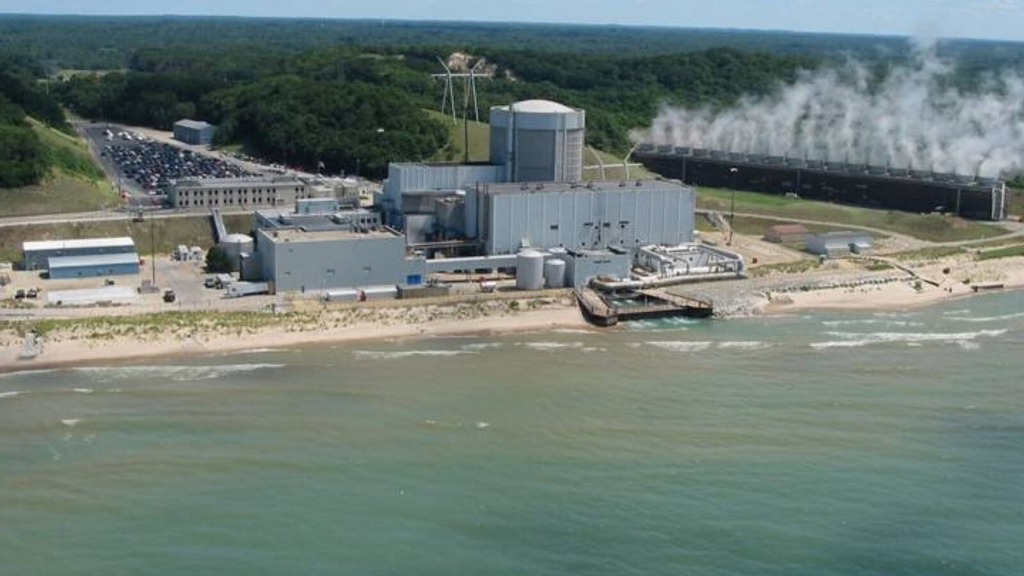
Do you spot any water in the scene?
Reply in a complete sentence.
Yes, water can be seen from above here.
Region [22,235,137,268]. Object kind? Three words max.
building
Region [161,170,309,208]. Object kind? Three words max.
building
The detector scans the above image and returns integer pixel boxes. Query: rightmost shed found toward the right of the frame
[795,232,876,255]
